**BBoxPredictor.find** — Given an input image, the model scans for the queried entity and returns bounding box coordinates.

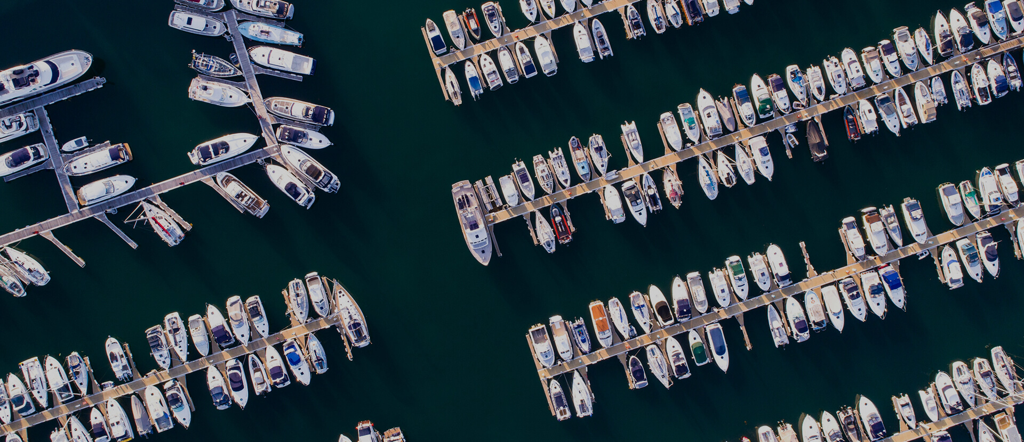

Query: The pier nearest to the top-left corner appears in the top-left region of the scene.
[0,77,105,120]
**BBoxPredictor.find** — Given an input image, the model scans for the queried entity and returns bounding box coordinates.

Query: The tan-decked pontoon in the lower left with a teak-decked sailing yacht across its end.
[0,276,353,442]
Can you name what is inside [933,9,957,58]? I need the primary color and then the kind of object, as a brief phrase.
white boat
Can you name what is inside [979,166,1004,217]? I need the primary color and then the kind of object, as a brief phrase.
white boat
